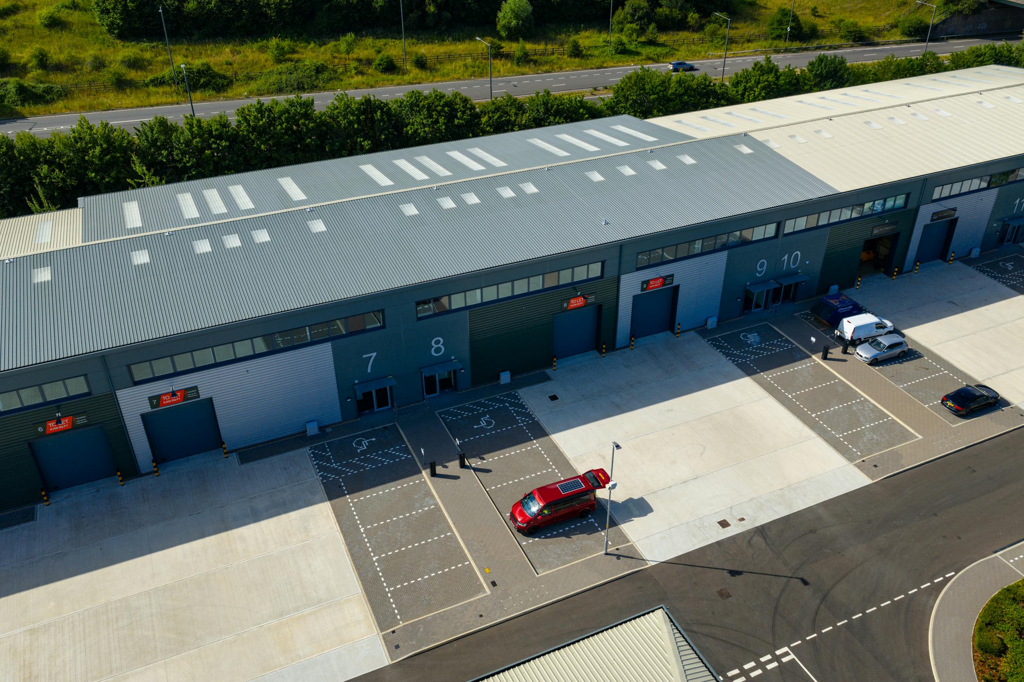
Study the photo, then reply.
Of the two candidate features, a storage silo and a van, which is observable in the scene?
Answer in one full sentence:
There is a van in the scene.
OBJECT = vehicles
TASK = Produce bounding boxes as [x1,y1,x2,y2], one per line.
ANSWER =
[667,58,697,71]
[837,311,897,345]
[944,381,1011,416]
[506,465,611,538]
[858,331,917,364]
